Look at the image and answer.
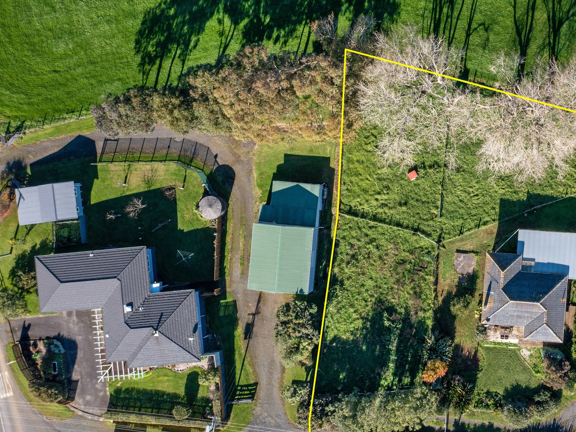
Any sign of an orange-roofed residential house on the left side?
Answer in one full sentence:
No, there is no orange-roofed residential house on the left side.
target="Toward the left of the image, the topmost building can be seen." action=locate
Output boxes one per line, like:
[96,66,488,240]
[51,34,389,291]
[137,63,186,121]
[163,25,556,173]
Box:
[15,181,85,226]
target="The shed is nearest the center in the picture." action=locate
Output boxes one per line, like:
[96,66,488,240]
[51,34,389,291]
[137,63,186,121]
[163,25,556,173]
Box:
[247,181,325,296]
